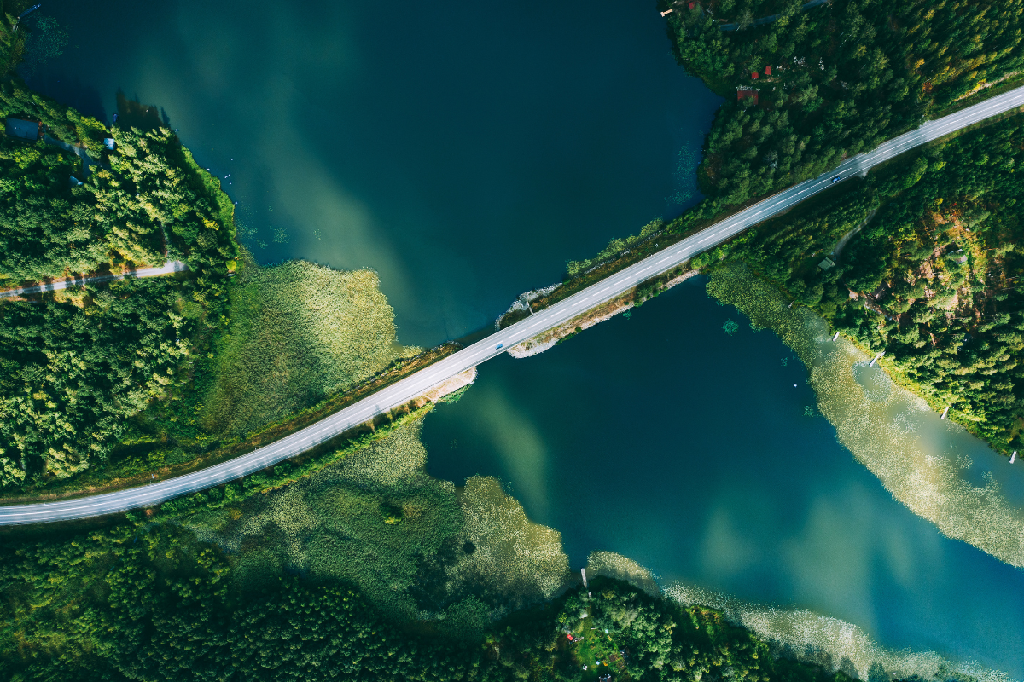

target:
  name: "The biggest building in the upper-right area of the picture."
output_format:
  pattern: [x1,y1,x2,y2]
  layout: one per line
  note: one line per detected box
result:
[736,90,759,106]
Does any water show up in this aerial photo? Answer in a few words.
Yes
